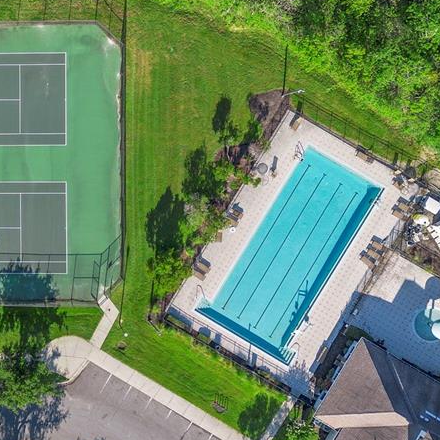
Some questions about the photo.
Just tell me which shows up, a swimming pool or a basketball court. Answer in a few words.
swimming pool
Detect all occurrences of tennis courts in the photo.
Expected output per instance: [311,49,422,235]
[0,53,67,146]
[0,182,67,274]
